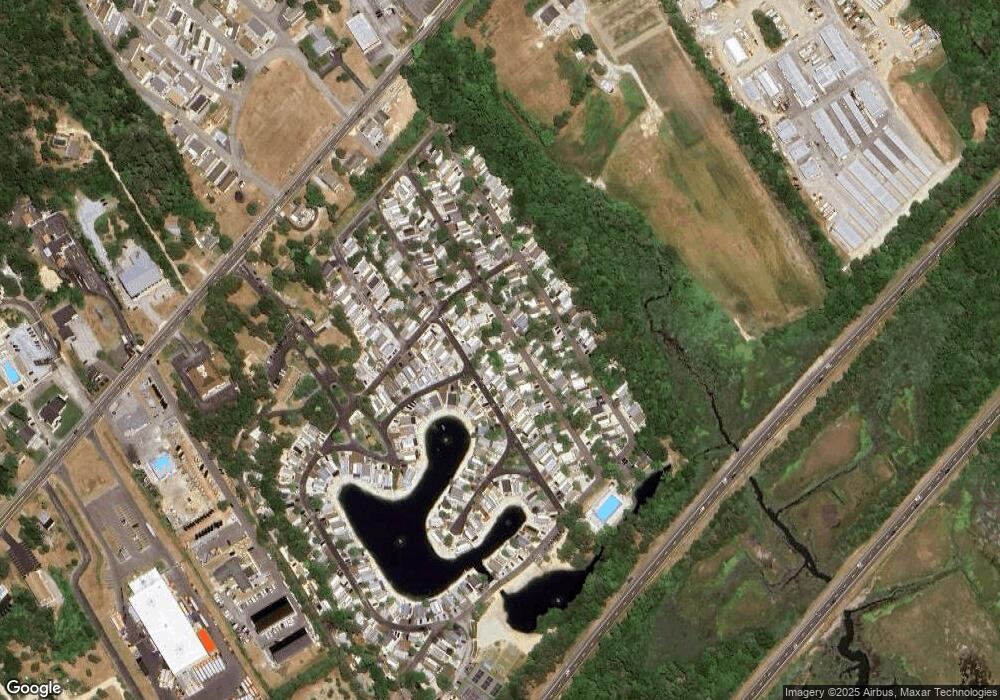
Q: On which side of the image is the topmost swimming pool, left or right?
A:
left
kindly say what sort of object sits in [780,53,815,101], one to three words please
building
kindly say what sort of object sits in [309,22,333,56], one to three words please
house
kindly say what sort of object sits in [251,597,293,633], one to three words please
shed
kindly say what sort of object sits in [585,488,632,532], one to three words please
swimming pool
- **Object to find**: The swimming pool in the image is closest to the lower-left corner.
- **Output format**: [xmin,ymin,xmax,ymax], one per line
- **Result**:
[147,451,175,480]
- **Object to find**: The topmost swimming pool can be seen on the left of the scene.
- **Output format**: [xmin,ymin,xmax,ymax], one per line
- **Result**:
[0,350,22,388]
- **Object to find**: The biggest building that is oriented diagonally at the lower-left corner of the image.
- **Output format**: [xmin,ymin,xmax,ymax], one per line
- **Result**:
[129,560,208,664]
